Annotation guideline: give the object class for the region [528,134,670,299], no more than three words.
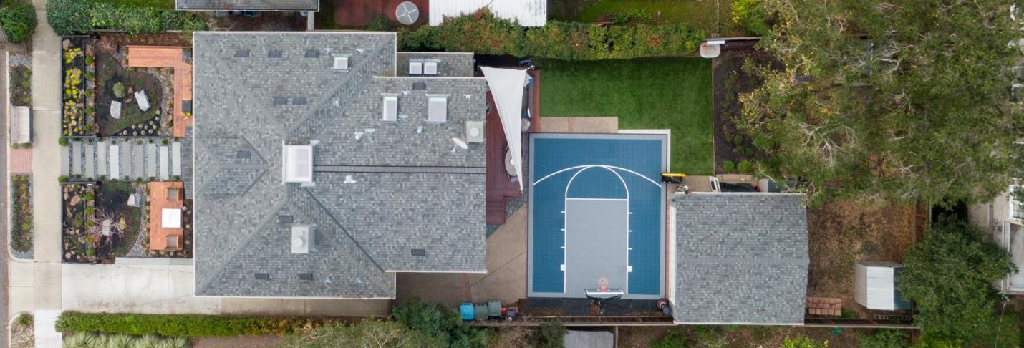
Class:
basketball court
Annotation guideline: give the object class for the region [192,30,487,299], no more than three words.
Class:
house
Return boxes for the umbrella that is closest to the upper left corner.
[395,1,420,25]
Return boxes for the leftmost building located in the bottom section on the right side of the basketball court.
[669,191,812,326]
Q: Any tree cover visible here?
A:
Yes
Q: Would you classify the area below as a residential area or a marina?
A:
residential area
